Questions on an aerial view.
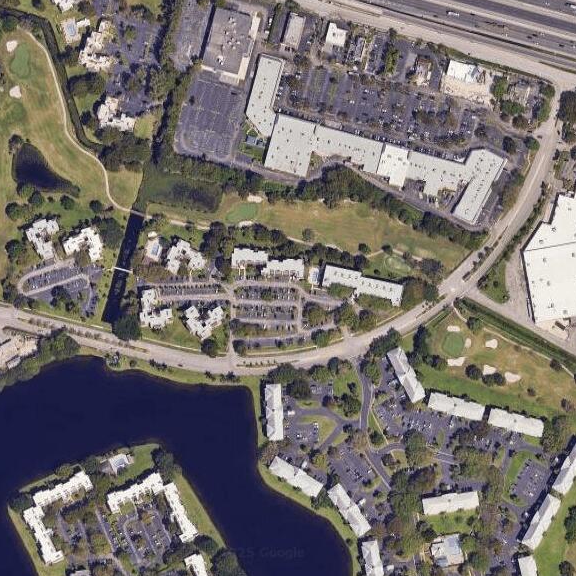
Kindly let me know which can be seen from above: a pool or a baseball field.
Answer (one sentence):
The image shows a pool.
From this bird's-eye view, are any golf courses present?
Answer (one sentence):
Yes, you can see a golf course in this photo.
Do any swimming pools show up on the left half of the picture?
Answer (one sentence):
Yes, a swimming pool appears on the left half of the picture.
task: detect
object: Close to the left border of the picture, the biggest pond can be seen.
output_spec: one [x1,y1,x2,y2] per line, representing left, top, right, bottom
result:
[13,143,77,193]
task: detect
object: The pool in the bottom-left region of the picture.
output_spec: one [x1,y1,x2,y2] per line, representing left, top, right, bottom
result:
[103,454,128,473]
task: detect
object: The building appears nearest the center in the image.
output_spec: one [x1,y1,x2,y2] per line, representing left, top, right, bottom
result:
[261,258,306,278]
